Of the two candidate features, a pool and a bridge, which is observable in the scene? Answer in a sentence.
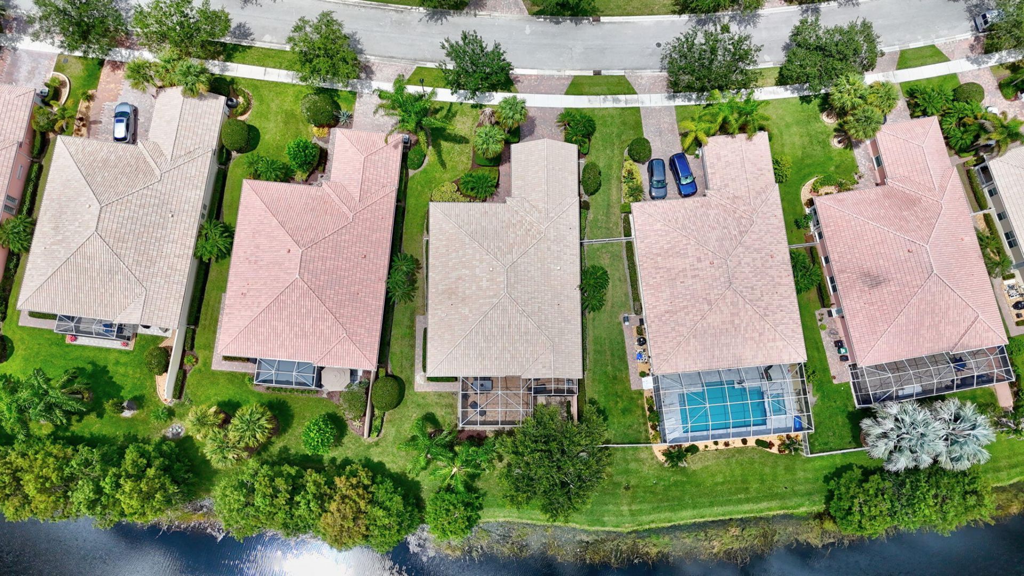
There is a pool in the scene.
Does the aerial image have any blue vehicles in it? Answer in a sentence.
Yes, the picture does show a blue vehicle.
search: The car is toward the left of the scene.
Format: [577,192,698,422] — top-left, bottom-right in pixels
[114,105,137,143]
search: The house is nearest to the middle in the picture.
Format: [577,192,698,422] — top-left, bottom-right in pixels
[424,137,585,380]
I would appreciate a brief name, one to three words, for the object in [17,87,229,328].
house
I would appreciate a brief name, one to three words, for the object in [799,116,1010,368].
house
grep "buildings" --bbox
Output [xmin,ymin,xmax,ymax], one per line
[799,116,1010,368]
[424,137,585,380]
[629,130,811,377]
[0,84,46,266]
[973,152,1024,301]
[216,128,404,371]
[17,87,229,328]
